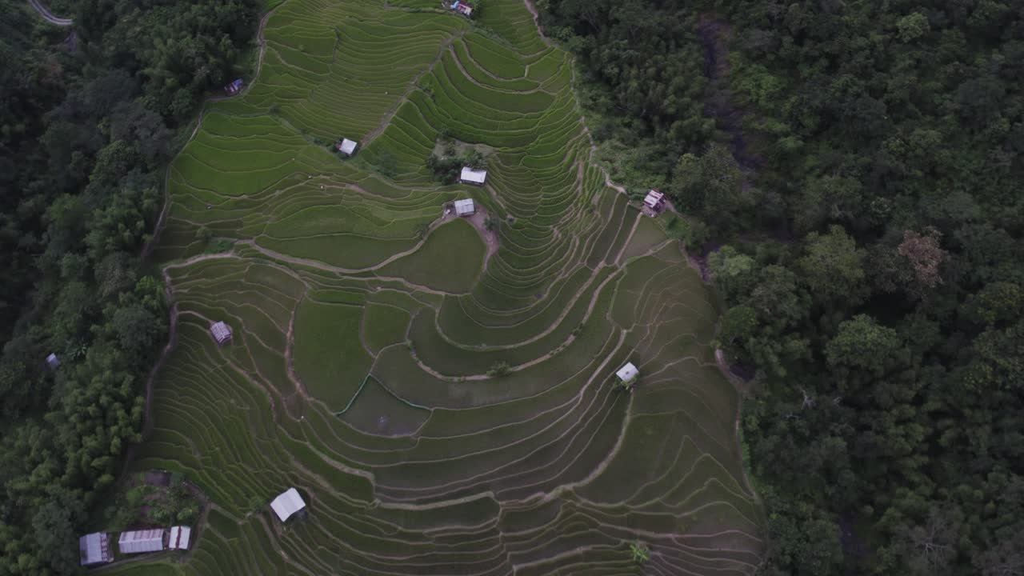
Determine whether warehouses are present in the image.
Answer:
No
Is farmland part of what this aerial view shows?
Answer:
Yes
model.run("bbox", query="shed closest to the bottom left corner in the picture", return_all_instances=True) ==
[80,528,113,569]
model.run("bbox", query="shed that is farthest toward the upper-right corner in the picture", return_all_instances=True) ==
[641,189,669,213]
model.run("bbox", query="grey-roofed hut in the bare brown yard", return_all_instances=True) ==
[454,199,475,219]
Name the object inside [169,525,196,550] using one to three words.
shed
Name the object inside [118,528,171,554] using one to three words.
shed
